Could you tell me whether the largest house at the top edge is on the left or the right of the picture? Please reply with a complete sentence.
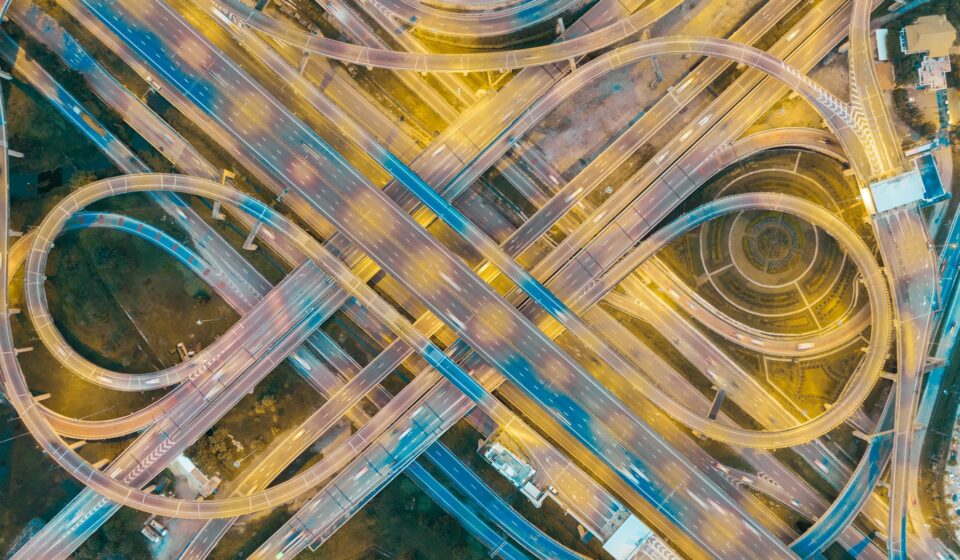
The largest house at the top edge sits on the right side.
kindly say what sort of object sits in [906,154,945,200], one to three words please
building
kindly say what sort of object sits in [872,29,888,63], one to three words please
shed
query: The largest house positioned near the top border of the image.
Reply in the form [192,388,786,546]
[900,12,958,59]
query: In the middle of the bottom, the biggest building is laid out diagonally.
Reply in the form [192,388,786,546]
[485,440,536,489]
